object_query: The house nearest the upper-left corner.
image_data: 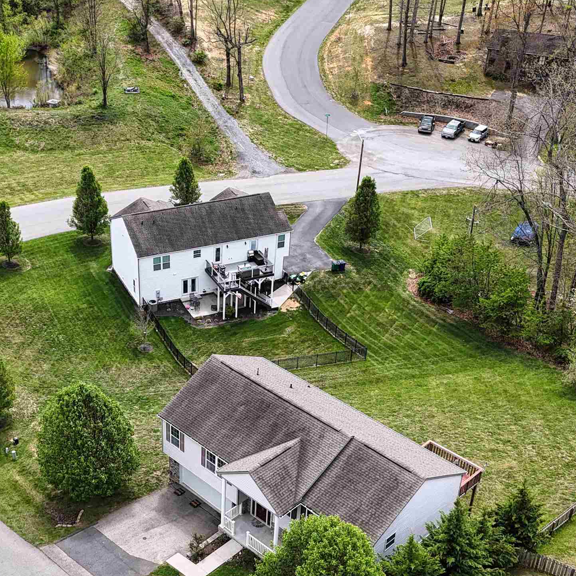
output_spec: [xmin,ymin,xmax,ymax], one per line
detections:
[108,186,292,315]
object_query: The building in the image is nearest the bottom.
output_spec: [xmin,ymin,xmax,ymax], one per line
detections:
[158,353,483,575]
